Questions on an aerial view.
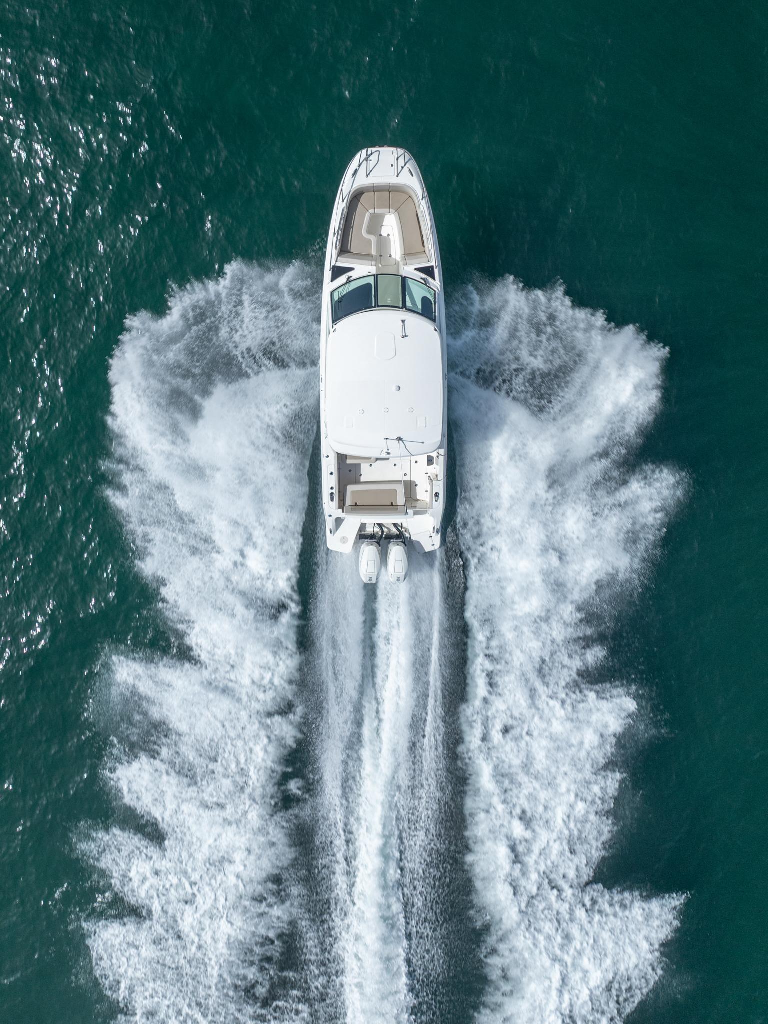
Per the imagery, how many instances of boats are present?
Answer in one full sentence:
The picture shows 1 boat.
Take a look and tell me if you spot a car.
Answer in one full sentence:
No, this view has no car in it.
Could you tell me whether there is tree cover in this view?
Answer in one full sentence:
No, the scene doesn't show any tree cover.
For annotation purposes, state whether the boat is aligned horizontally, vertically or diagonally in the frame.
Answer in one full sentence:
I'd say the boat is aligned vertically in the picture.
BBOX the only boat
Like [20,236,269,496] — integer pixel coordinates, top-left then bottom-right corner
[320,145,448,584]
